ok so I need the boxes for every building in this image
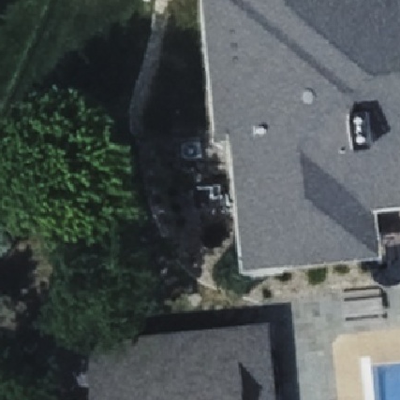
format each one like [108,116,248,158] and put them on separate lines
[198,0,400,275]
[84,323,276,400]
